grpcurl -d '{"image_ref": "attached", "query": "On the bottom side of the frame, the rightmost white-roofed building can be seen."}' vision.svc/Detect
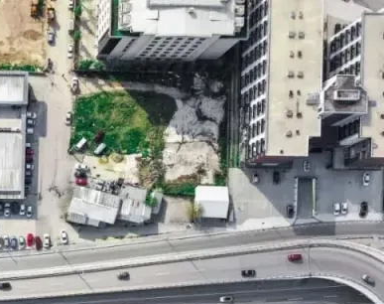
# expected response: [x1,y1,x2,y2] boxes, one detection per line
[191,186,230,217]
